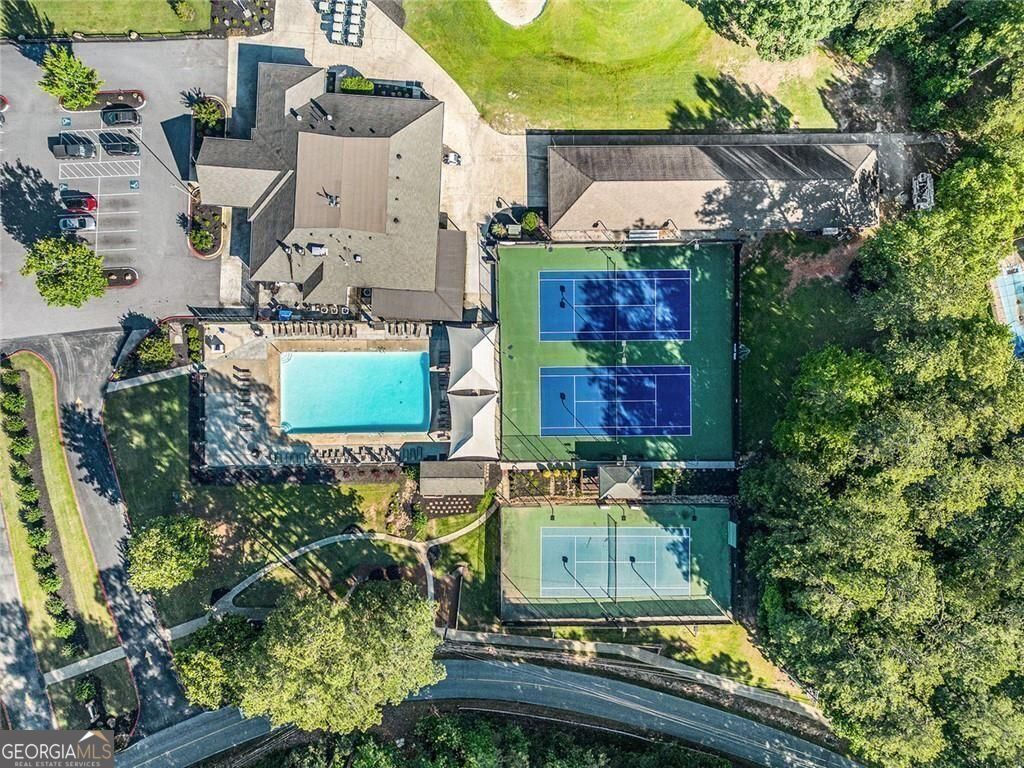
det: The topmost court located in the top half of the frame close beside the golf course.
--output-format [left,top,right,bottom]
[498,245,735,353]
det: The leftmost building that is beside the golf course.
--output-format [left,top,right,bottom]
[196,62,466,321]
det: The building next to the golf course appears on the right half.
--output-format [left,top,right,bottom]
[549,144,880,231]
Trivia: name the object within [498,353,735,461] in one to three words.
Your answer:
tennis court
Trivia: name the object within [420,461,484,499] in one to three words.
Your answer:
building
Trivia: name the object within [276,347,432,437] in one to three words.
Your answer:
swimming pool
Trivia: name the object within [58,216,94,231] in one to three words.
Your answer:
car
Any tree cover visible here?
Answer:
Yes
